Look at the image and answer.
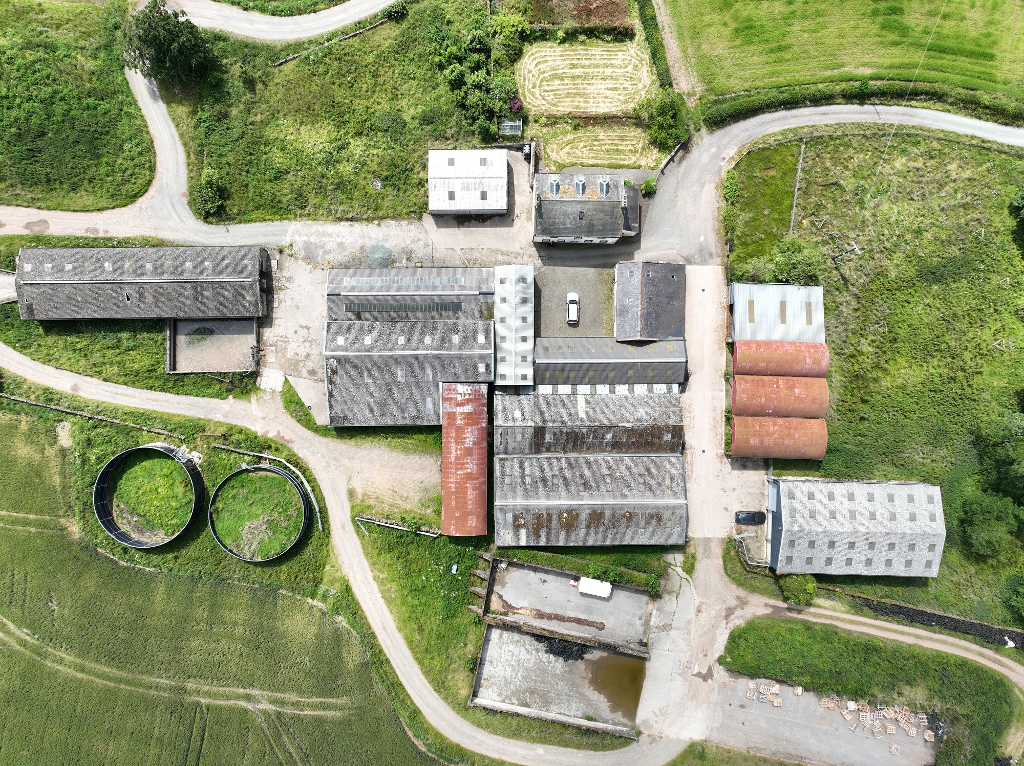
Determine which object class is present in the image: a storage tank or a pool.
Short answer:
storage tank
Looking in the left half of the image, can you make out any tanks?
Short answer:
Yes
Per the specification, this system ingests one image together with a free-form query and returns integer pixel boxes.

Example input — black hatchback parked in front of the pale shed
[734,510,766,526]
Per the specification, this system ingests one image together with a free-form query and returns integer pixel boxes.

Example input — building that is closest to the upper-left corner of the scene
[15,245,268,320]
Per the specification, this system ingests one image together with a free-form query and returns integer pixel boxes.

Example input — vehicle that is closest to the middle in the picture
[565,292,581,324]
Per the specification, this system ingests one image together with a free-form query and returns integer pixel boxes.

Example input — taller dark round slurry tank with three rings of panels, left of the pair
[93,445,204,549]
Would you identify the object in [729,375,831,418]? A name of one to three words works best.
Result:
barn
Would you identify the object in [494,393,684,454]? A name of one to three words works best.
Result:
shed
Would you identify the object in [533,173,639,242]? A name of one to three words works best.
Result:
house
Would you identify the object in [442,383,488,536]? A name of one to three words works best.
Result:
barn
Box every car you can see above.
[734,510,766,526]
[565,292,581,324]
